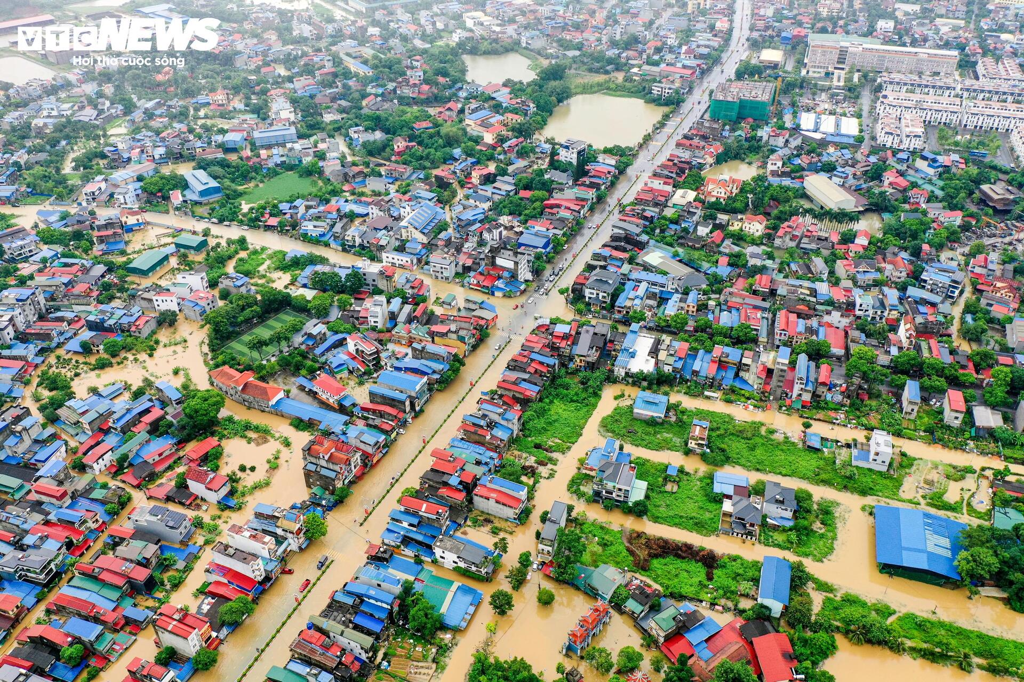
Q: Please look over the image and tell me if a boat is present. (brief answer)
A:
No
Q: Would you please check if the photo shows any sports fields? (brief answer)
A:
Yes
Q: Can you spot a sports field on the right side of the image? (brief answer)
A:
No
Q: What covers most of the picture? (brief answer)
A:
buildings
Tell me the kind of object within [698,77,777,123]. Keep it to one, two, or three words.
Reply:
building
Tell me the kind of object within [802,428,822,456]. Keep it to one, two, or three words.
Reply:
shed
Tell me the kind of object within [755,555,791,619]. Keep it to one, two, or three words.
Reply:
house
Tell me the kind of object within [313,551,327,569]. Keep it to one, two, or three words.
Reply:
vehicle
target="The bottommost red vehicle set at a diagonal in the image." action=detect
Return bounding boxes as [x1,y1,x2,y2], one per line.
[296,577,313,594]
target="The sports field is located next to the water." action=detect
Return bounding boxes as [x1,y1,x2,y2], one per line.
[224,309,305,363]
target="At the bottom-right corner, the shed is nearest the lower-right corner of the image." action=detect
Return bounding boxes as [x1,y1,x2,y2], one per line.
[974,584,1007,604]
